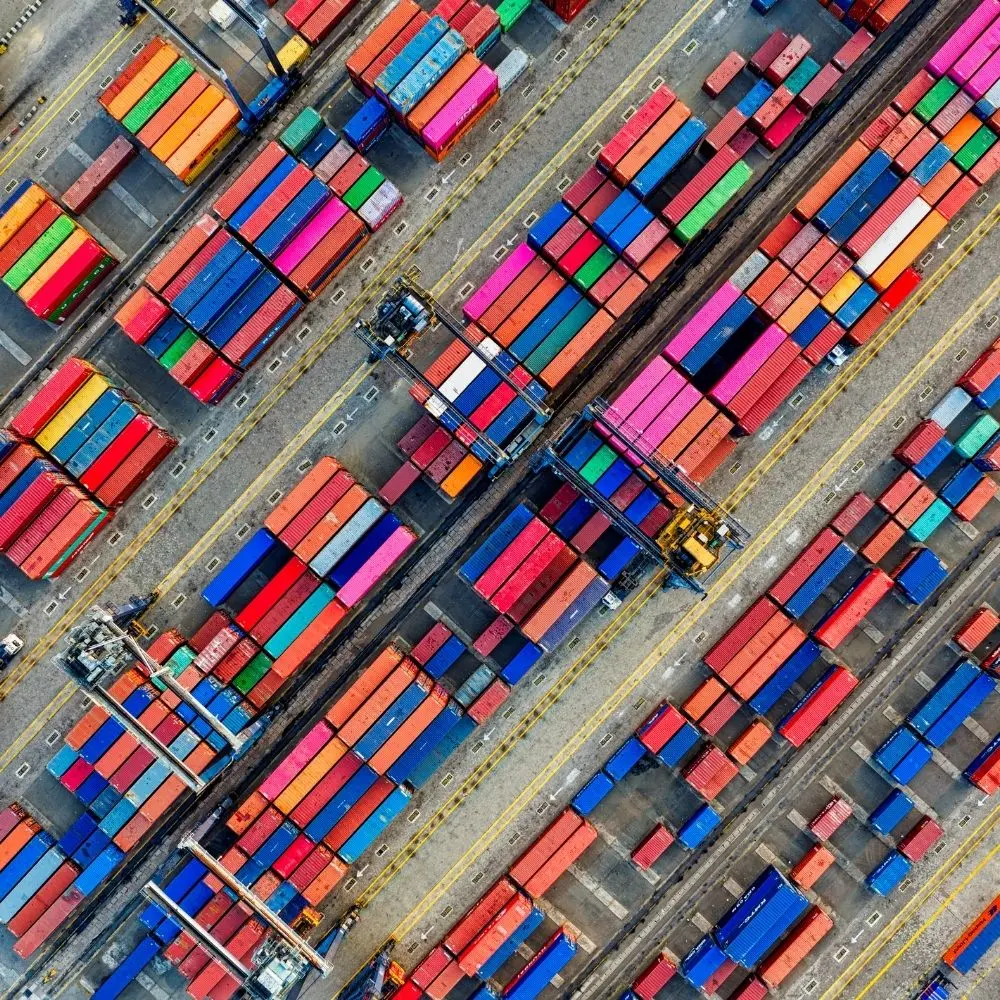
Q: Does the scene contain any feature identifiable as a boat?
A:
No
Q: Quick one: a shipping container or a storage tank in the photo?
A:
shipping container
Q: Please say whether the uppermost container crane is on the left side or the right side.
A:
left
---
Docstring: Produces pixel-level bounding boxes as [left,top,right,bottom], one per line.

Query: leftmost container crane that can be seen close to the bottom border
[133,793,357,1000]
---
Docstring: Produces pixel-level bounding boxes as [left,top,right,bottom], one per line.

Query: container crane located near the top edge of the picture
[125,0,299,132]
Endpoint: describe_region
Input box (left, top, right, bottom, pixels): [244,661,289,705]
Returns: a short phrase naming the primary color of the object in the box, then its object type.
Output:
red shipping container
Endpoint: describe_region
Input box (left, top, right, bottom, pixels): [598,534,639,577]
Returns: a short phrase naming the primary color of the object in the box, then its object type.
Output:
blue shipping container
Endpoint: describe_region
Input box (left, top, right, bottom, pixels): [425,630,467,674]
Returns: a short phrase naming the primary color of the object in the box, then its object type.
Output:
blue shipping container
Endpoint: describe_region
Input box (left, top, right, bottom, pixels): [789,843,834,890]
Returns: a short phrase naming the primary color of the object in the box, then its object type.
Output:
red shipping container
